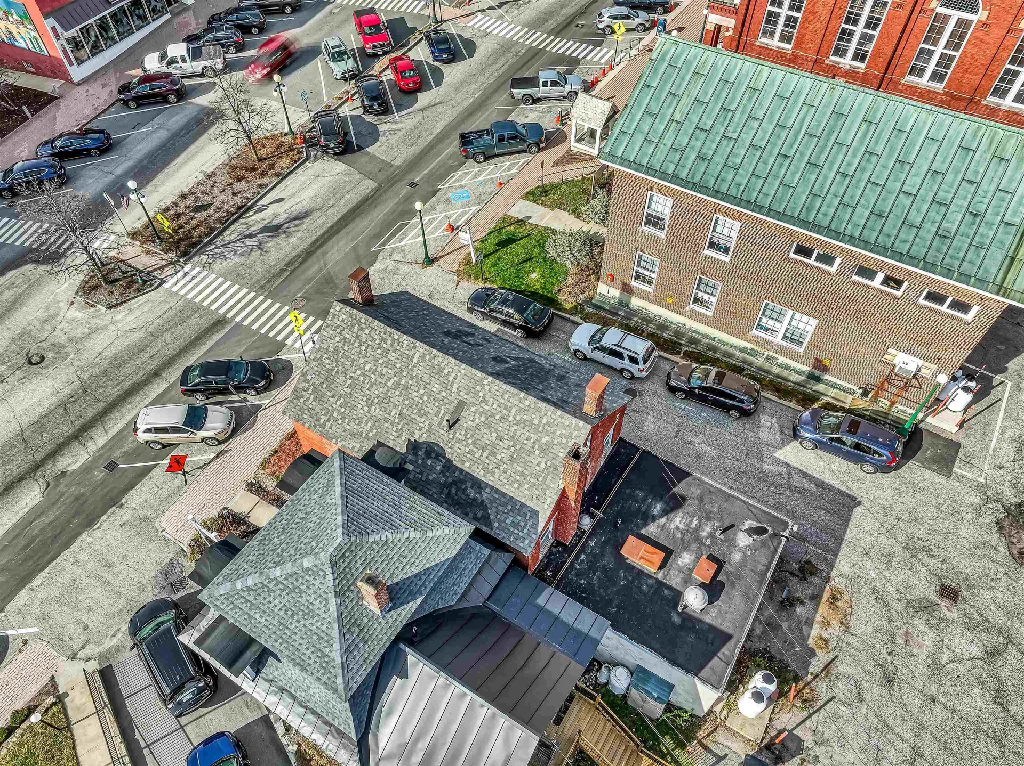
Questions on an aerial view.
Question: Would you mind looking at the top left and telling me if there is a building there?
Yes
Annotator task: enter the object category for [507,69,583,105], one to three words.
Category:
truck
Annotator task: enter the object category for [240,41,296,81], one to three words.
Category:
car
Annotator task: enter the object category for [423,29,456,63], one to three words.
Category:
car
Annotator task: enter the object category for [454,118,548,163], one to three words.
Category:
truck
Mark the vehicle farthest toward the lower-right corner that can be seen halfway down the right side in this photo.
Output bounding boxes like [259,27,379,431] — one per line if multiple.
[792,407,909,477]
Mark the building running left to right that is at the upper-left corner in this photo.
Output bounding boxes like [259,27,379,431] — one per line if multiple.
[0,0,190,83]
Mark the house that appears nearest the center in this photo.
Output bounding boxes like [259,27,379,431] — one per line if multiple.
[282,263,635,576]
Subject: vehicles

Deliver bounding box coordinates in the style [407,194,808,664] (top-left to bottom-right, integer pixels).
[567,323,663,381]
[603,0,672,14]
[124,400,234,450]
[141,43,227,77]
[0,146,74,198]
[171,357,273,401]
[454,118,548,163]
[592,4,652,34]
[183,23,244,55]
[387,56,424,93]
[206,3,267,34]
[319,29,361,79]
[666,359,771,420]
[309,111,348,156]
[135,602,226,734]
[116,70,186,108]
[34,126,113,157]
[466,288,554,339]
[240,41,296,81]
[507,69,583,105]
[423,29,456,63]
[352,74,391,117]
[792,407,909,477]
[352,7,393,55]
[239,0,299,14]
